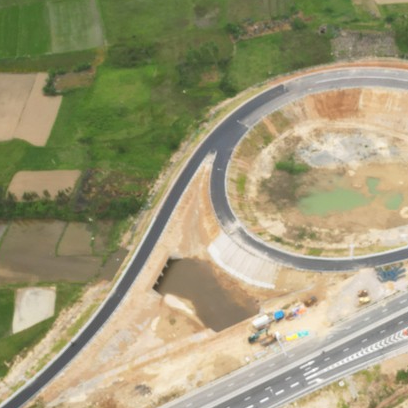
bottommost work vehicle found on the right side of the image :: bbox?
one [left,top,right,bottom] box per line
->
[246,327,270,345]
